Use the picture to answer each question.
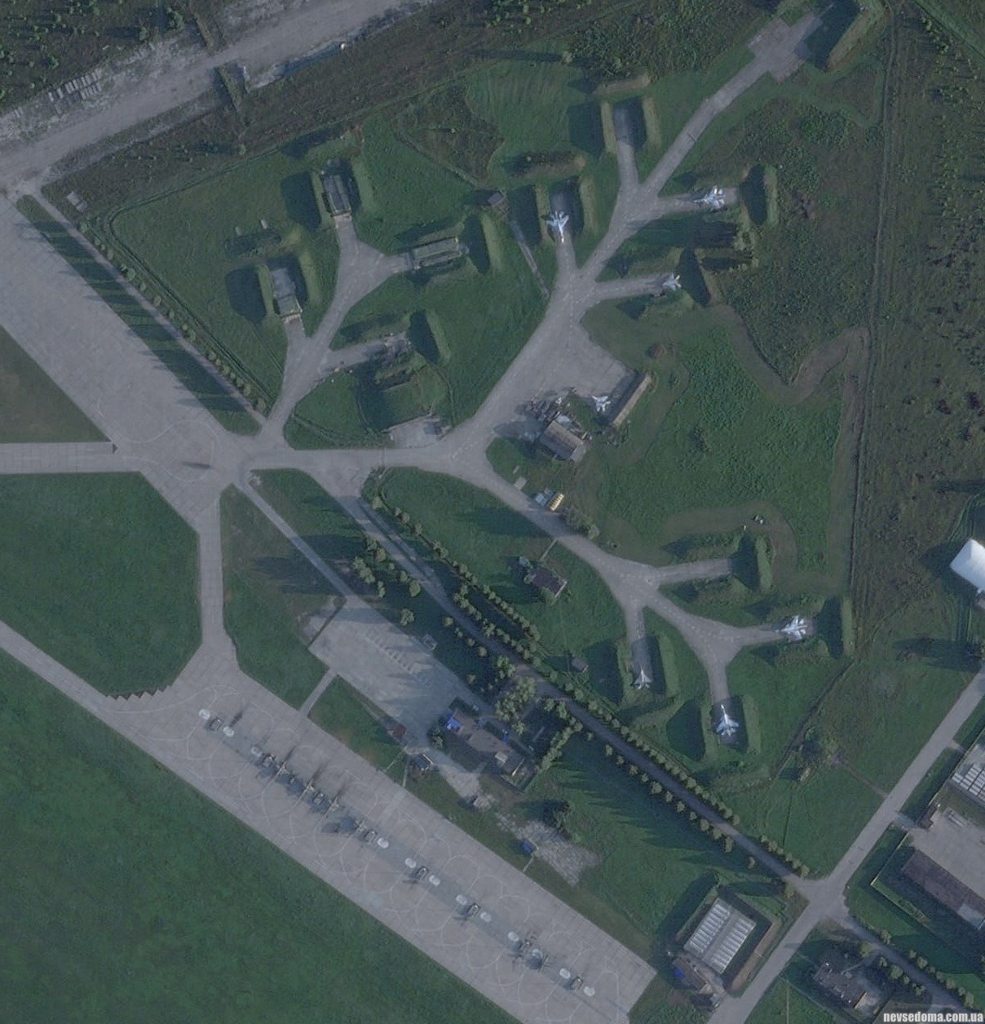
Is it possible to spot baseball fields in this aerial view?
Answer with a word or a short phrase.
No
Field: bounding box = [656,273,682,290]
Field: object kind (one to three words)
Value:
airplane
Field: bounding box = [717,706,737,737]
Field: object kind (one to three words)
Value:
airplane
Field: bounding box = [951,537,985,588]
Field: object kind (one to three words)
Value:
hangar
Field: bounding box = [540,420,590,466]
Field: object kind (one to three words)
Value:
building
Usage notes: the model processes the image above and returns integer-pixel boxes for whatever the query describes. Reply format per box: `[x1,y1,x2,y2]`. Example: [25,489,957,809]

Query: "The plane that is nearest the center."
[593,396,615,414]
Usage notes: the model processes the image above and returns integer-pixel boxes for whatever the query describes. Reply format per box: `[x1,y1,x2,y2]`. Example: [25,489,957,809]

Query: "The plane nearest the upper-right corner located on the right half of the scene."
[695,187,727,208]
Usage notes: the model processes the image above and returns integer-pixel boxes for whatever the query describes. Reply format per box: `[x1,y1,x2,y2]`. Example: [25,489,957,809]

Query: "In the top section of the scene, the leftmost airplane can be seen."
[550,212,570,241]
